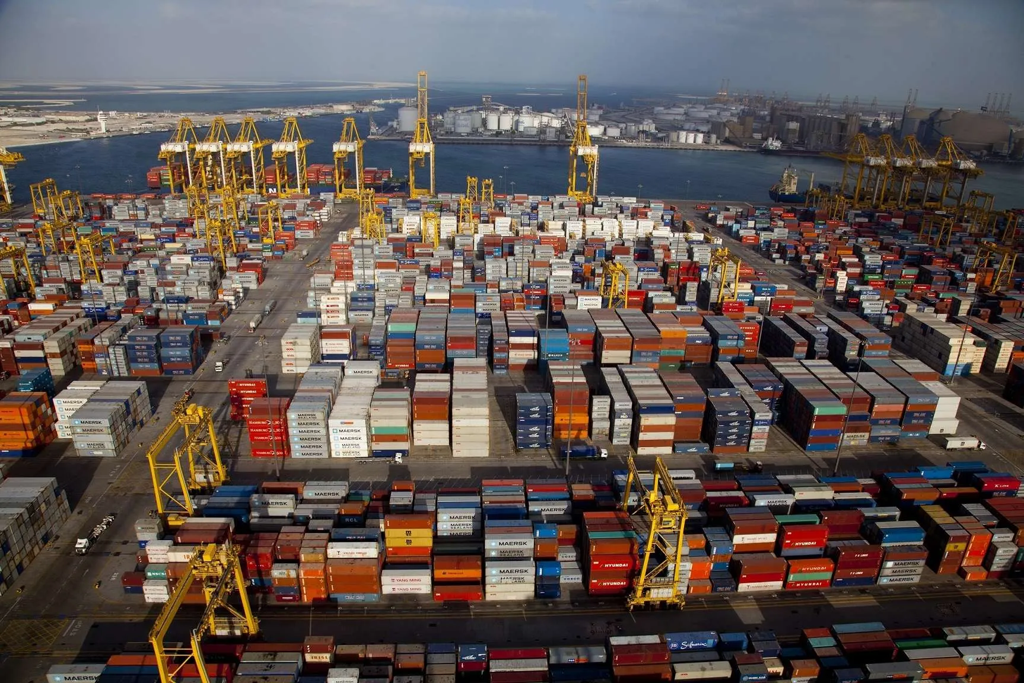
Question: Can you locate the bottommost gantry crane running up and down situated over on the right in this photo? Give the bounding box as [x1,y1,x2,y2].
[621,455,691,607]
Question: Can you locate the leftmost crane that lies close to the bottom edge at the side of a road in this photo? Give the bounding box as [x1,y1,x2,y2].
[152,530,263,683]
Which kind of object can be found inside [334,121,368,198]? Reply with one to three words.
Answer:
container crane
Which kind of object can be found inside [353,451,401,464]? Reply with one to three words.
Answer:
vehicle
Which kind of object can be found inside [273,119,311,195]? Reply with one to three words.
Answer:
container crane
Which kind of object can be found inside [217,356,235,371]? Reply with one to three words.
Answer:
vehicle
